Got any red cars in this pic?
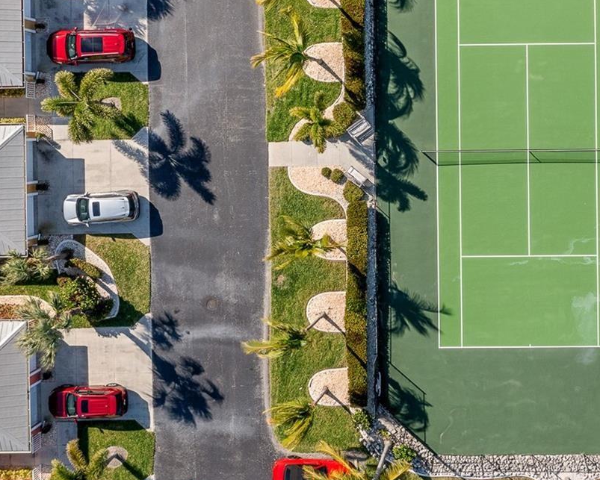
Yes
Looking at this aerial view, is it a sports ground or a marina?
sports ground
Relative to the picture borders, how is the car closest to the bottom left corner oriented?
from side to side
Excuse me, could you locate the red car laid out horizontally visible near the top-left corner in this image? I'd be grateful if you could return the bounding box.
[49,26,135,65]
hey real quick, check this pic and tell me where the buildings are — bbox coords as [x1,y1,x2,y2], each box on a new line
[0,0,34,89]
[0,126,37,258]
[0,321,41,453]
